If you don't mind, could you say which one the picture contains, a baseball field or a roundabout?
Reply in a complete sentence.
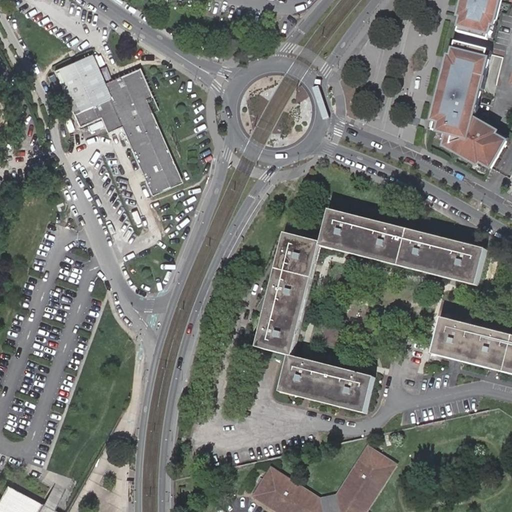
Visible in the photo is a roundabout.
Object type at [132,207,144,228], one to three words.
vehicle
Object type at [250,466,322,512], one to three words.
house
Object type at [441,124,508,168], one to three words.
house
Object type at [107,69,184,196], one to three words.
building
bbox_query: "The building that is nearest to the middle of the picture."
[254,232,322,356]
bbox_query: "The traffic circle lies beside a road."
[223,58,332,166]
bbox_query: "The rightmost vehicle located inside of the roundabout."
[313,82,330,118]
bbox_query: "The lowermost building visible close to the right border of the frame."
[430,316,512,374]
